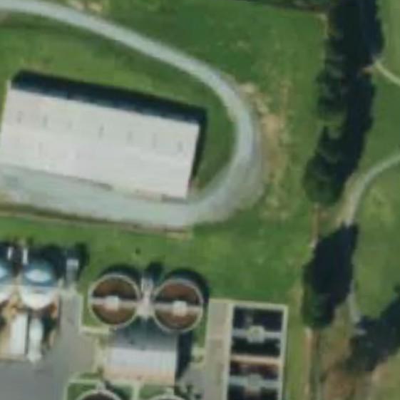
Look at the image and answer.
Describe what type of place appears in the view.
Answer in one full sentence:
This looks like an industrial area.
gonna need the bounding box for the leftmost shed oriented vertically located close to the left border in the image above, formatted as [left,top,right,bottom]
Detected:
[11,314,28,358]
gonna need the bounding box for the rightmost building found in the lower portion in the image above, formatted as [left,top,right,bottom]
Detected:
[106,328,178,380]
